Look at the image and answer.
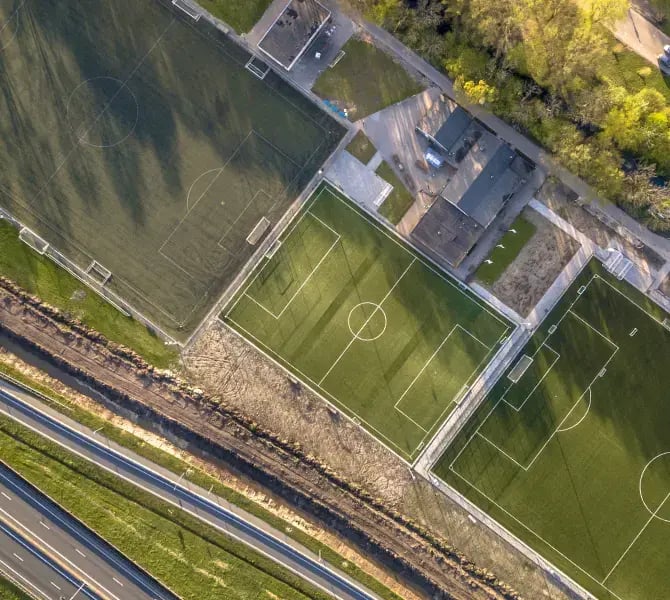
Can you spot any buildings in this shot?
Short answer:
Yes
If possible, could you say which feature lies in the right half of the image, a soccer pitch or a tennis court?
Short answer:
soccer pitch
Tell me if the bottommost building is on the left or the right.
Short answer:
right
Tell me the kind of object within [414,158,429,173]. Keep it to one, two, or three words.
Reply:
car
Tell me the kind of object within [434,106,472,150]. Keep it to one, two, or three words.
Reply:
shed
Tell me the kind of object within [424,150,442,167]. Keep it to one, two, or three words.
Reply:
vehicle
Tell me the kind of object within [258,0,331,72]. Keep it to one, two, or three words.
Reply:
building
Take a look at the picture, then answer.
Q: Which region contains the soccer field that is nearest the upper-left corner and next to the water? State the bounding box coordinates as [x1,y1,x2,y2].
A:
[0,0,345,347]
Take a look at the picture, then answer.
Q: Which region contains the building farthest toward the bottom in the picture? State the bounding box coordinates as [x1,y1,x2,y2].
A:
[411,196,485,267]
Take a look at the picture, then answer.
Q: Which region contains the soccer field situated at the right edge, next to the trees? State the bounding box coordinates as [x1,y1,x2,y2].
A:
[425,254,670,600]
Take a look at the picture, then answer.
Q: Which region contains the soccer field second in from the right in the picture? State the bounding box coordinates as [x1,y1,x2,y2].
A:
[218,177,519,467]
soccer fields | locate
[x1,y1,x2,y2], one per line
[218,177,519,467]
[0,0,345,347]
[425,254,670,600]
